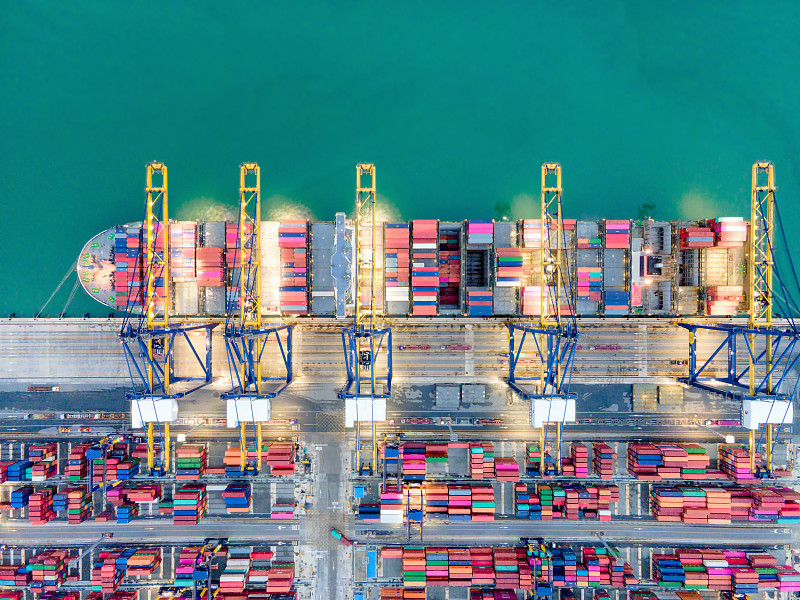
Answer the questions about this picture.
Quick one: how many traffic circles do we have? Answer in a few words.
0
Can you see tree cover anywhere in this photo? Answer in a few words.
No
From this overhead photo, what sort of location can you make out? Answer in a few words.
port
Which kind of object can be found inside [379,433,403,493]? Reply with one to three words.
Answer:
crane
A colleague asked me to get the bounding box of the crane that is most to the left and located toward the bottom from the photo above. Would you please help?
[92,433,135,493]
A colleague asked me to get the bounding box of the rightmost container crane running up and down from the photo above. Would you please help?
[674,162,800,477]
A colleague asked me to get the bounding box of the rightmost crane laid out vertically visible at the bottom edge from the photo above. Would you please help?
[520,538,550,600]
